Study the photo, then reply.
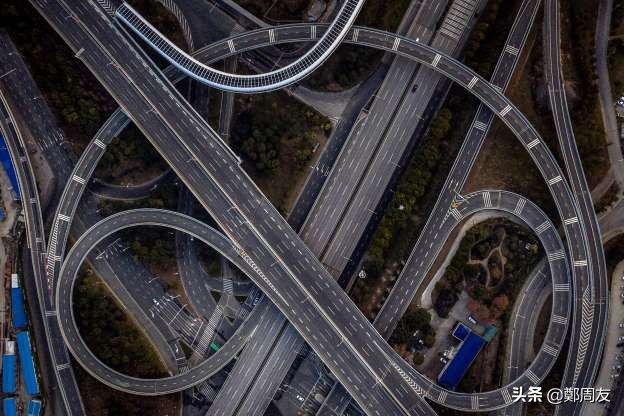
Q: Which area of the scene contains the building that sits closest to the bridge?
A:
bottom right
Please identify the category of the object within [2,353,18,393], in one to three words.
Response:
shed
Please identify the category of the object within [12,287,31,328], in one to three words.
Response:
shed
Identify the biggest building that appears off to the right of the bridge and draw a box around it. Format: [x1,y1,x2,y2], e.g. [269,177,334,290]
[438,329,486,390]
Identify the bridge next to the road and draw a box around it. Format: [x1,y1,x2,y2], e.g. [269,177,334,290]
[29,0,439,416]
